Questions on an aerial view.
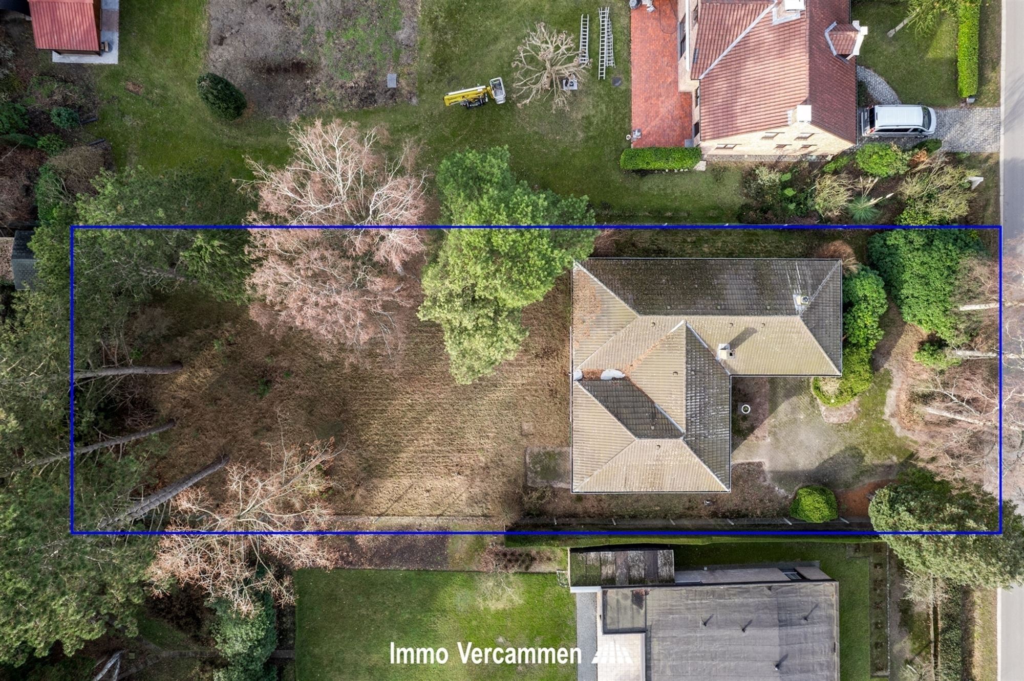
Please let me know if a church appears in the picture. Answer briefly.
No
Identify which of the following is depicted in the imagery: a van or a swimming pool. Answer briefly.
van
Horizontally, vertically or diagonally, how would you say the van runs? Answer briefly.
horizontally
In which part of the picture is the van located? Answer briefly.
top right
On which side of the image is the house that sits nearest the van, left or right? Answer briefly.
right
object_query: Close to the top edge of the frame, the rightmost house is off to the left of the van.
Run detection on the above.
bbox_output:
[677,0,873,157]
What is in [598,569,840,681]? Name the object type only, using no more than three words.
house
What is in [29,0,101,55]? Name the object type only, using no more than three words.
shed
